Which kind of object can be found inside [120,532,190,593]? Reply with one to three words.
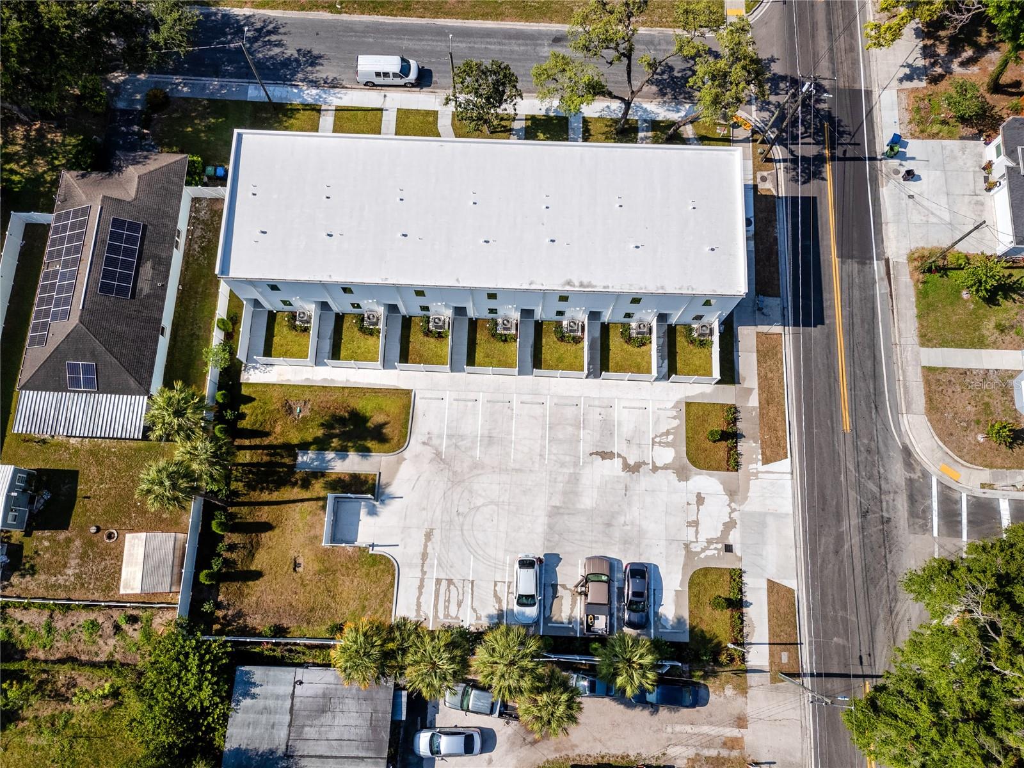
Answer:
shed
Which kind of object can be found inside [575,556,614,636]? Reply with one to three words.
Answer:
truck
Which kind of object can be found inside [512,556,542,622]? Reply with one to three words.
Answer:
car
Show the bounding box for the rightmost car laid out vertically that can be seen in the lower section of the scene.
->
[622,564,651,628]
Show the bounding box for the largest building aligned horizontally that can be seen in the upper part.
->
[216,131,748,330]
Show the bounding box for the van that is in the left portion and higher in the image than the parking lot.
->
[354,56,420,90]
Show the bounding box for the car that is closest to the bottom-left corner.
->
[415,728,481,762]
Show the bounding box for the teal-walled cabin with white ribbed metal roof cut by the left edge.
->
[0,465,38,530]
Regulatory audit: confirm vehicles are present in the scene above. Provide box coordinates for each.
[447,687,527,729]
[415,728,481,762]
[512,556,542,622]
[354,56,420,90]
[566,667,633,704]
[622,564,651,628]
[575,556,614,636]
[632,678,701,711]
